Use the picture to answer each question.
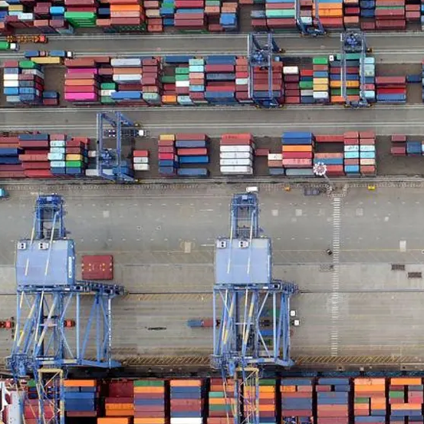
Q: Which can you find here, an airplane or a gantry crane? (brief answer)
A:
gantry crane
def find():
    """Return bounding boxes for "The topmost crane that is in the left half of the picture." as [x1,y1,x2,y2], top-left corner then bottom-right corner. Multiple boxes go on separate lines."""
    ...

[96,109,144,180]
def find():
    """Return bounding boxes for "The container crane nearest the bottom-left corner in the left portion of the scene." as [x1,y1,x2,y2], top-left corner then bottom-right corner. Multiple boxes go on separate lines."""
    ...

[4,195,127,424]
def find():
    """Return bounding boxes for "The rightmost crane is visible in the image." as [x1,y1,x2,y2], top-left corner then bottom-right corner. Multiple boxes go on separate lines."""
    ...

[341,29,376,105]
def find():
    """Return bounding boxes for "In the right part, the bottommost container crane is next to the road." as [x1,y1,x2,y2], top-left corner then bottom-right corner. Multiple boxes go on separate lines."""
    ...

[207,195,303,424]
